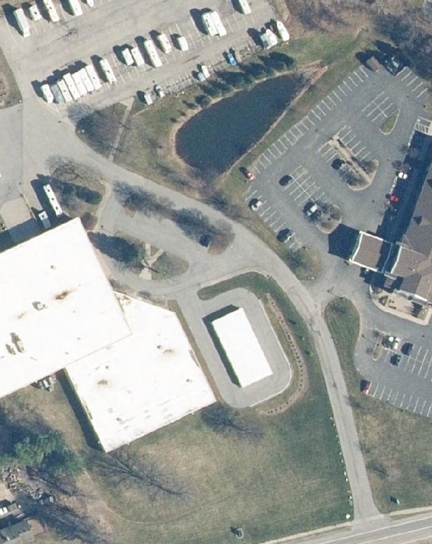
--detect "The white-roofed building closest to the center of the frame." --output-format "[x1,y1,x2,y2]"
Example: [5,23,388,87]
[212,308,272,389]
